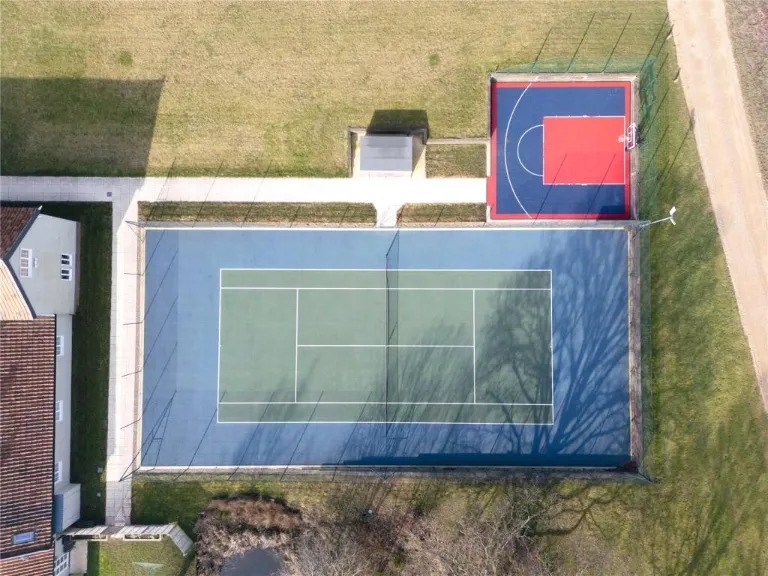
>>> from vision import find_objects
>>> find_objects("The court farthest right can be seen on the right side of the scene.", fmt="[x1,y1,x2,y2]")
[486,81,634,219]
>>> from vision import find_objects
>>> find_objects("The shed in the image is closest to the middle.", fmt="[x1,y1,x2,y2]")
[360,136,412,177]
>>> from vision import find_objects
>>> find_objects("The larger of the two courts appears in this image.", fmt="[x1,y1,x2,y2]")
[139,229,633,469]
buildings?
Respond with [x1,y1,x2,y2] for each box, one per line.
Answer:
[360,136,412,177]
[0,207,81,576]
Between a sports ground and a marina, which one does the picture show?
sports ground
